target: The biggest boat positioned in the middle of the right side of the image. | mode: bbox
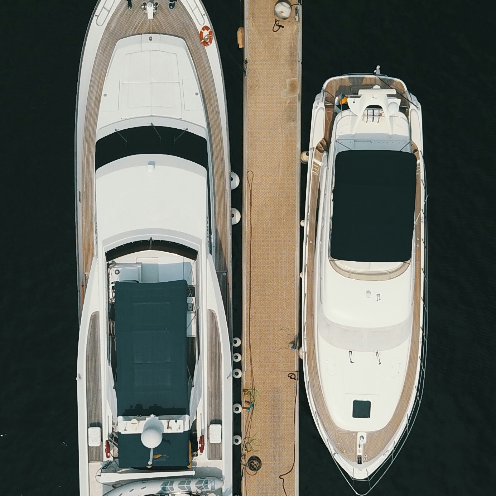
[300,64,428,495]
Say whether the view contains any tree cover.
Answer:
No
